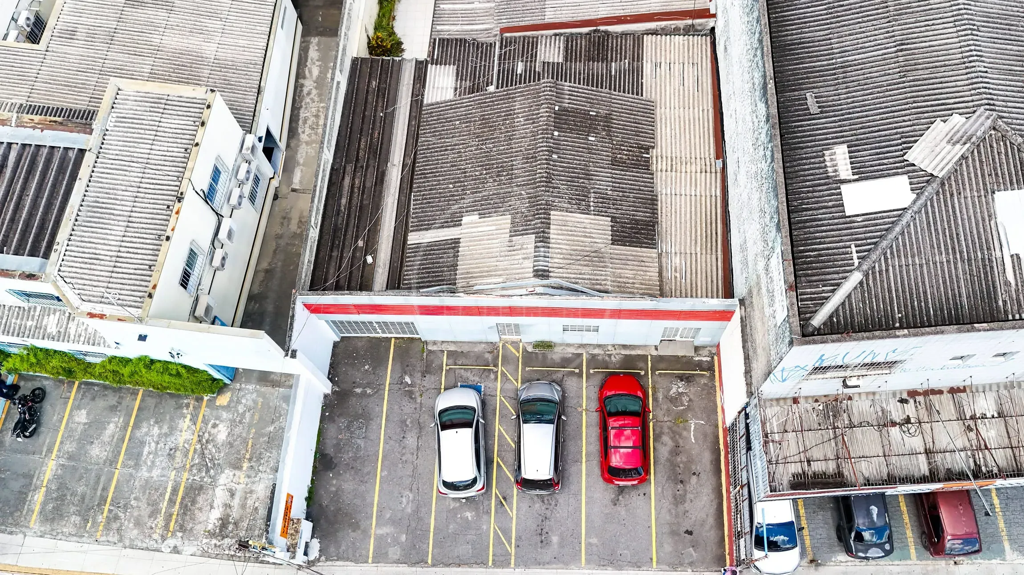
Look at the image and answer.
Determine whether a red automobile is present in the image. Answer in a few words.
Yes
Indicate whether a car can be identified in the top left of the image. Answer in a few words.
No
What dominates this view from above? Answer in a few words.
buildings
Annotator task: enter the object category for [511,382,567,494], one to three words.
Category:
car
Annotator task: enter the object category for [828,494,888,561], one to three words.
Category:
car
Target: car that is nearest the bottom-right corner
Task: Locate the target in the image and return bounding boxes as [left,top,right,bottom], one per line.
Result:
[910,488,982,560]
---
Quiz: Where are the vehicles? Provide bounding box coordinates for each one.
[910,488,982,560]
[6,384,44,439]
[431,386,487,498]
[511,382,567,494]
[597,375,651,487]
[744,458,808,575]
[828,494,888,561]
